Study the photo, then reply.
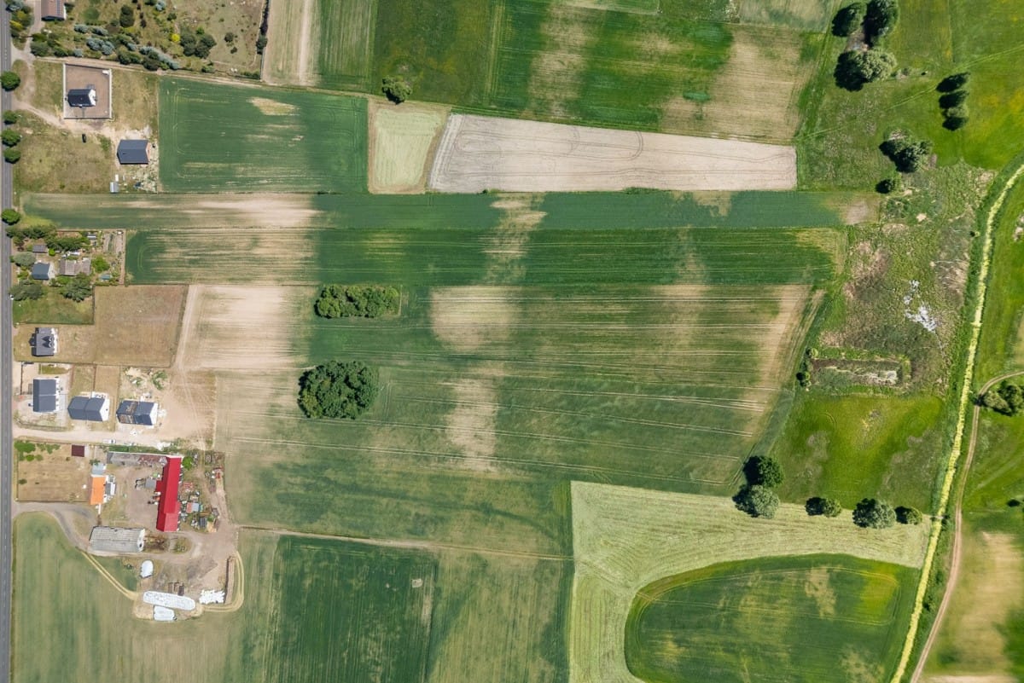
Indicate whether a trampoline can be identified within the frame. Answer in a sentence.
No, I can see no trampoline in this picture.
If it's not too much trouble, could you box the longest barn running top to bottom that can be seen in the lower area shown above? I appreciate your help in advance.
[158,455,189,537]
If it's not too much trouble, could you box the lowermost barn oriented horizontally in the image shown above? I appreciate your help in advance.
[89,525,145,553]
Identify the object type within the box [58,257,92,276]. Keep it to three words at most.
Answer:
building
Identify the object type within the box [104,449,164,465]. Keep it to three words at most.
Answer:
shed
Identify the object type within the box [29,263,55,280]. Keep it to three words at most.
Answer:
house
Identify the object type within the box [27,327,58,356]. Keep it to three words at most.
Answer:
house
